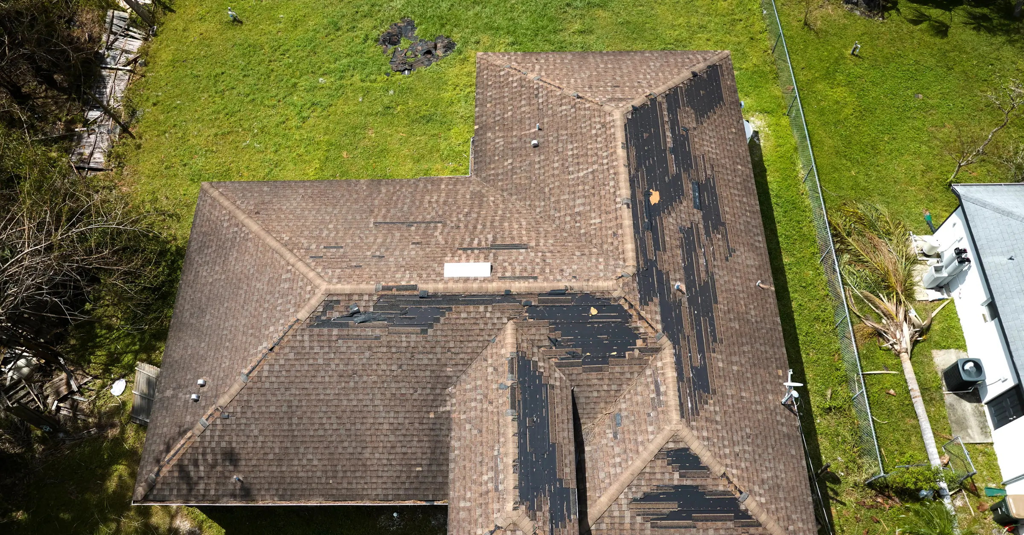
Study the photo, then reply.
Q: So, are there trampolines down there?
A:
No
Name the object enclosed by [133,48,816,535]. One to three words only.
house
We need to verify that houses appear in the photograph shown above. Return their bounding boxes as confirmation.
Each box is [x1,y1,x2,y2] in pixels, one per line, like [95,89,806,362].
[931,183,1024,535]
[133,48,816,535]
